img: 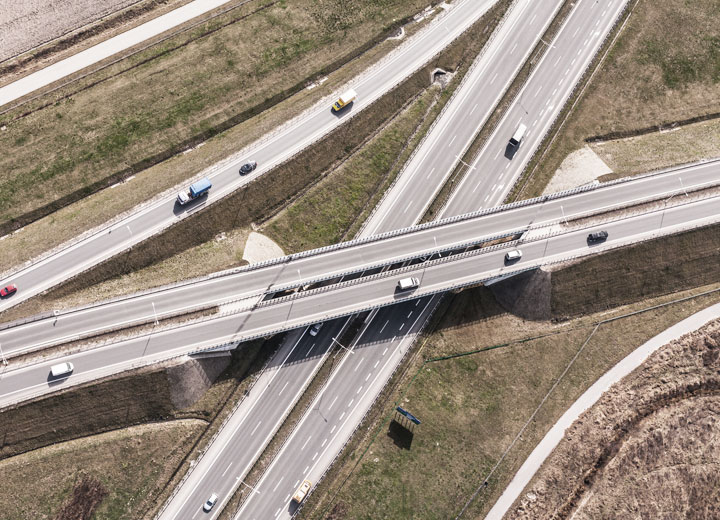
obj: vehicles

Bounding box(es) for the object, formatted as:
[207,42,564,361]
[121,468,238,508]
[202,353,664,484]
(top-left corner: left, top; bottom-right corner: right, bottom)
[330,90,357,115]
[240,162,257,175]
[202,493,219,511]
[310,323,323,337]
[509,121,529,145]
[505,251,522,261]
[292,480,311,504]
[48,363,75,377]
[0,284,18,298]
[589,232,606,242]
[397,278,419,291]
[177,179,210,206]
